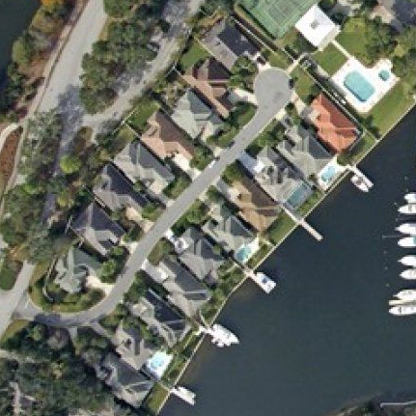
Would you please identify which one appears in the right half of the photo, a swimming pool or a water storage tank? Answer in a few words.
swimming pool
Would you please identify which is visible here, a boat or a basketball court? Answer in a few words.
boat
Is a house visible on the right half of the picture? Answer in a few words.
Yes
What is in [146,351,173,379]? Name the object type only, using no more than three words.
swimming pool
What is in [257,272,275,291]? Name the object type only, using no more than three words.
boat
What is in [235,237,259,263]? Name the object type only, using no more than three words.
swimming pool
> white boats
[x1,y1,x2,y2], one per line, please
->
[353,176,370,192]
[400,256,416,267]
[389,306,416,317]
[257,272,275,291]
[396,223,416,235]
[401,268,416,279]
[213,324,239,343]
[398,236,416,247]
[400,203,416,214]
[178,386,195,400]
[405,192,416,202]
